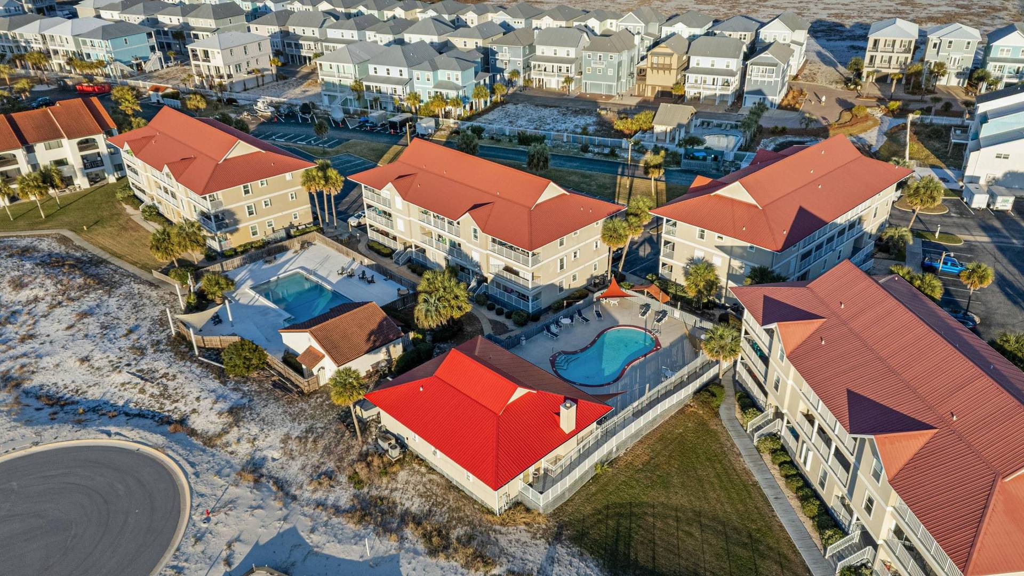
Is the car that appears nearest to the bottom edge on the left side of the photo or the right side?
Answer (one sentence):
The car that appears nearest to the bottom edge sits on the right side.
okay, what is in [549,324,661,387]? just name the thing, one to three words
swimming pool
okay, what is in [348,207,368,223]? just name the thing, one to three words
car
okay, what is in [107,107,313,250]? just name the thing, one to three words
building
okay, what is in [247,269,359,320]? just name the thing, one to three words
swimming pool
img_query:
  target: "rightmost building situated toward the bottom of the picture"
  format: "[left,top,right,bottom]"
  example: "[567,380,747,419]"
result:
[730,259,1024,576]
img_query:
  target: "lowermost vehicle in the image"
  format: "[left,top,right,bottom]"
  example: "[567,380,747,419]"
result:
[946,308,983,330]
